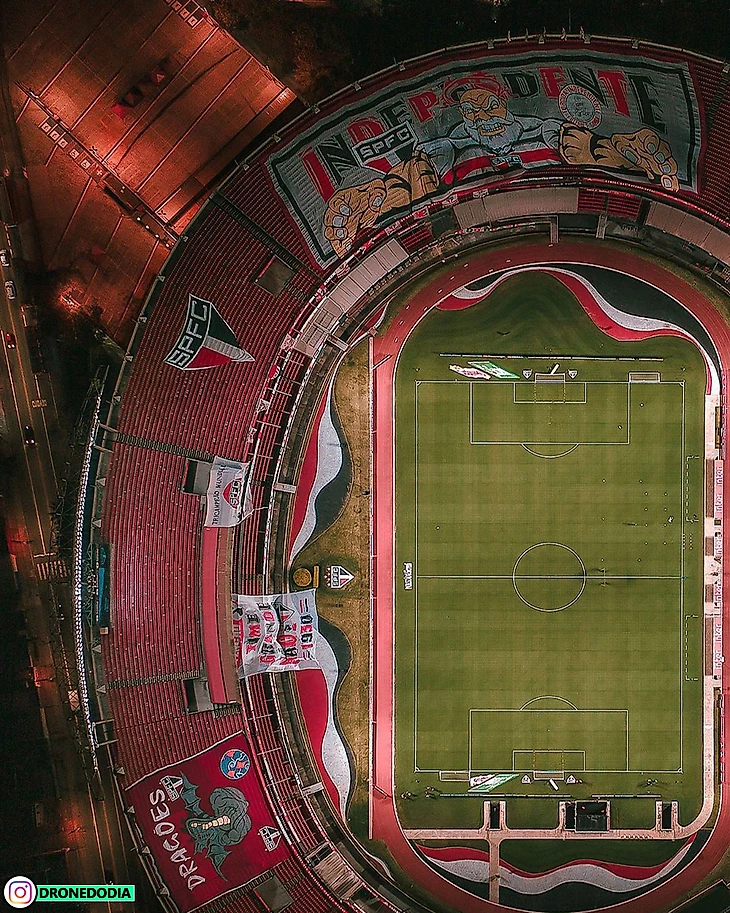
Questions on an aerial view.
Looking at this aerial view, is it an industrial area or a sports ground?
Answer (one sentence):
The area seen from above is a sports ground.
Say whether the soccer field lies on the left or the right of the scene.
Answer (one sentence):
The soccer field sits on the right side.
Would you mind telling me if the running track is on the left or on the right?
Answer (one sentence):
The running track is on the right side of the image.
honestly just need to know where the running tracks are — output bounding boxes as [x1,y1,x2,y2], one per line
[373,242,730,913]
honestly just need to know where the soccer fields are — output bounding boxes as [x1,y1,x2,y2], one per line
[398,357,705,797]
